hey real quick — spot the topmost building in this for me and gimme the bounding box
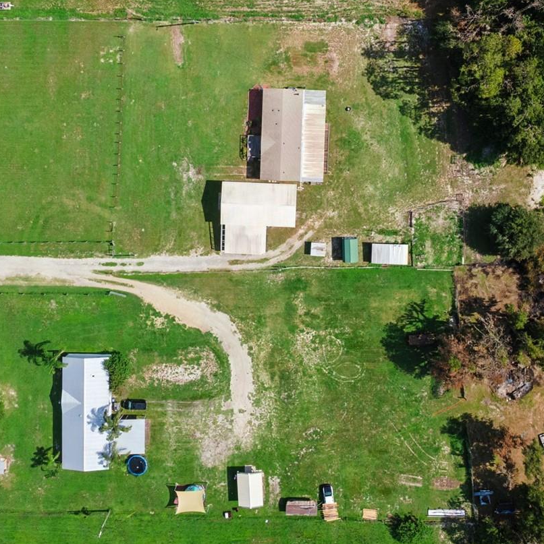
[259,85,327,184]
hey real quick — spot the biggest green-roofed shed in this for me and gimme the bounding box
[342,232,357,263]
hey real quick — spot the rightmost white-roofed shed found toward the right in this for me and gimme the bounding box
[370,242,409,266]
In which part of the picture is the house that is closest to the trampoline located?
bottom left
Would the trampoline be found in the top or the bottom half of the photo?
bottom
